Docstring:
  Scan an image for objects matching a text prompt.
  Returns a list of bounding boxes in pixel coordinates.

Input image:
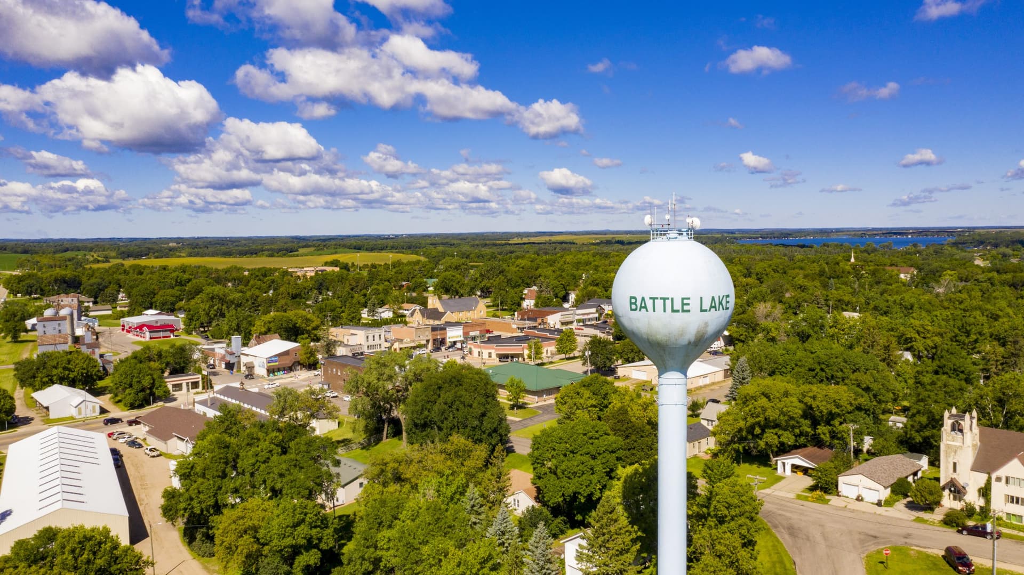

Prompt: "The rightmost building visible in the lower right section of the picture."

[931,421,1024,542]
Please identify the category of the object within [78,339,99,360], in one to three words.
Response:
shed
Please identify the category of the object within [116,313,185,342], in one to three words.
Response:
building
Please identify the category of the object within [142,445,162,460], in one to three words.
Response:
vehicle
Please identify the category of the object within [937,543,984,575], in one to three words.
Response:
car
